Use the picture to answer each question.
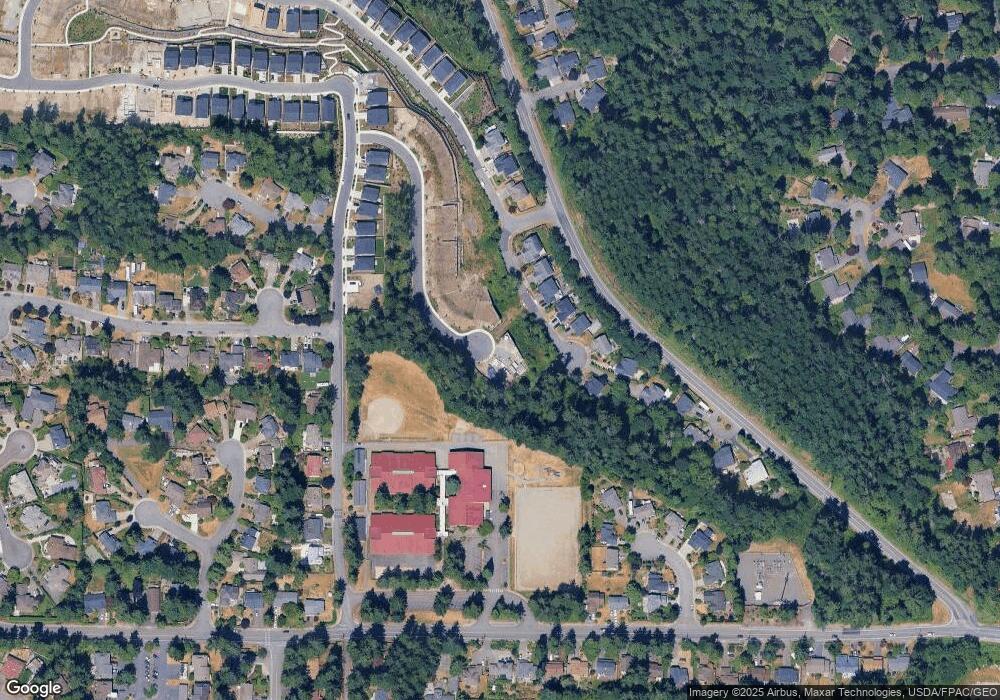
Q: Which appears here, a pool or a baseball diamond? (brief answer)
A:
baseball diamond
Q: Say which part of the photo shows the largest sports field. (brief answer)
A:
bottom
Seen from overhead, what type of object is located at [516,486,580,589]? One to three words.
sports field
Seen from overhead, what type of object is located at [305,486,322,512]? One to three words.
house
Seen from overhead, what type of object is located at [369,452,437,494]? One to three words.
building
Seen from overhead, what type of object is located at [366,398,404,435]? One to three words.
baseball field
